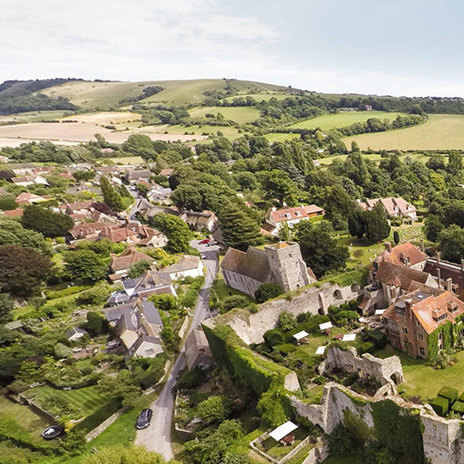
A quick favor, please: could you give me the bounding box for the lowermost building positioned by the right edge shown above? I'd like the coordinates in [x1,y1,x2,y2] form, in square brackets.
[419,396,462,464]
